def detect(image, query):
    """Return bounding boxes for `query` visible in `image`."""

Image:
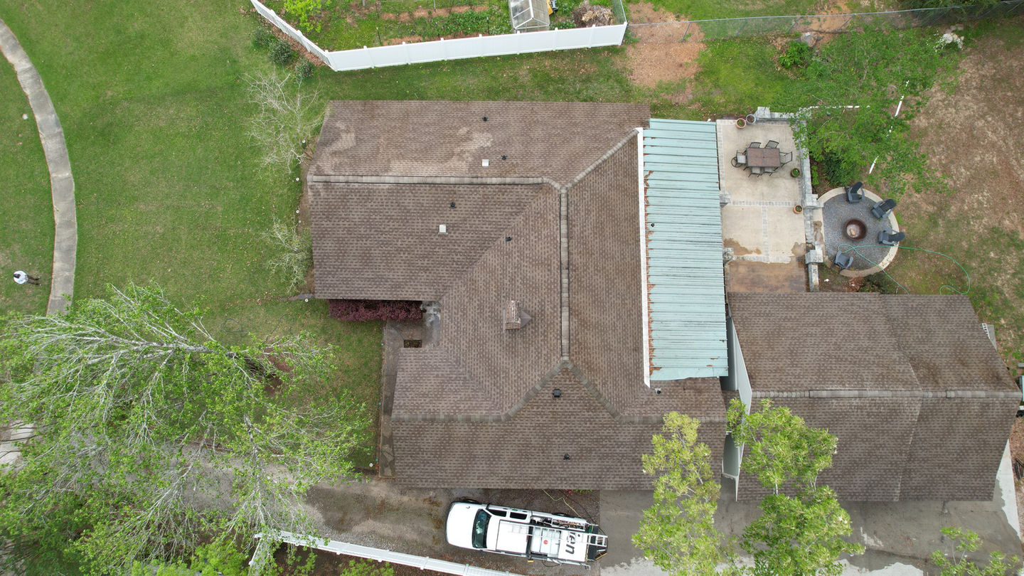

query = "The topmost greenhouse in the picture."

[513,0,552,33]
